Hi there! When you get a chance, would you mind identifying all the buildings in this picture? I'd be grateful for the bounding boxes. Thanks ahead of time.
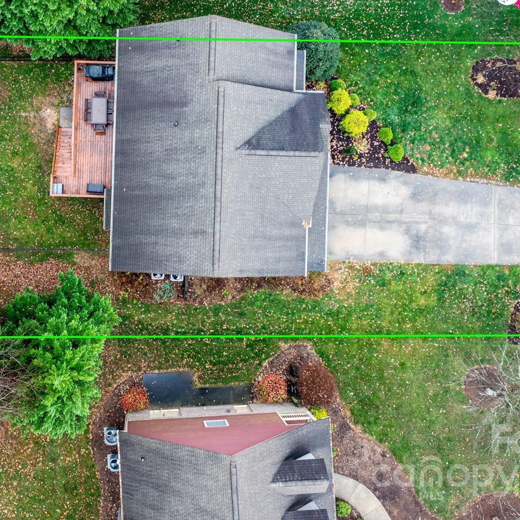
[102,15,330,277]
[117,404,336,520]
